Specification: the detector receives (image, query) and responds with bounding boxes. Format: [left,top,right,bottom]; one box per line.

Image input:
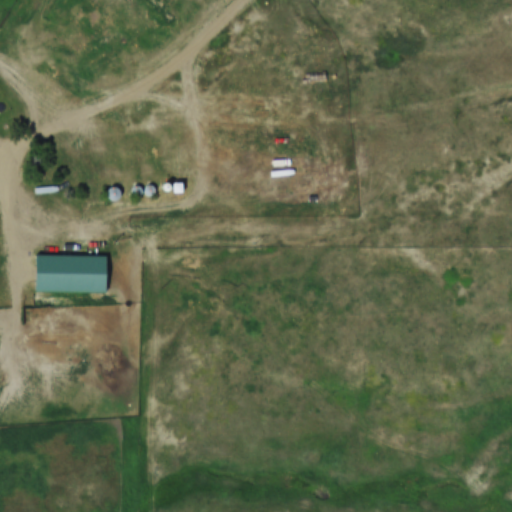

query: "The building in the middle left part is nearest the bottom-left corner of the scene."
[36,255,106,292]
